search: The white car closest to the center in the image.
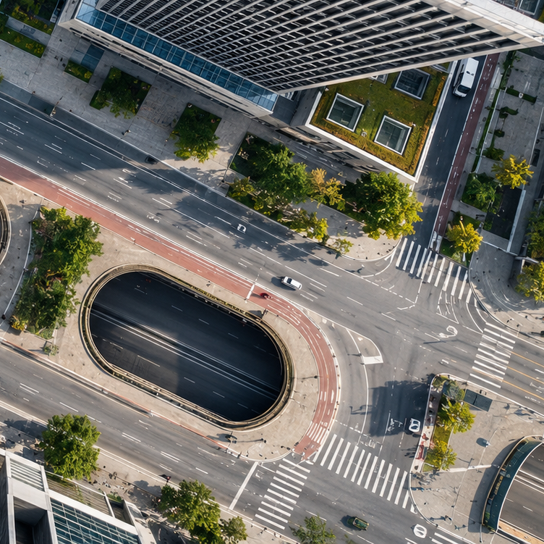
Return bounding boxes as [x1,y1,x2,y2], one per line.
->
[281,275,301,290]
